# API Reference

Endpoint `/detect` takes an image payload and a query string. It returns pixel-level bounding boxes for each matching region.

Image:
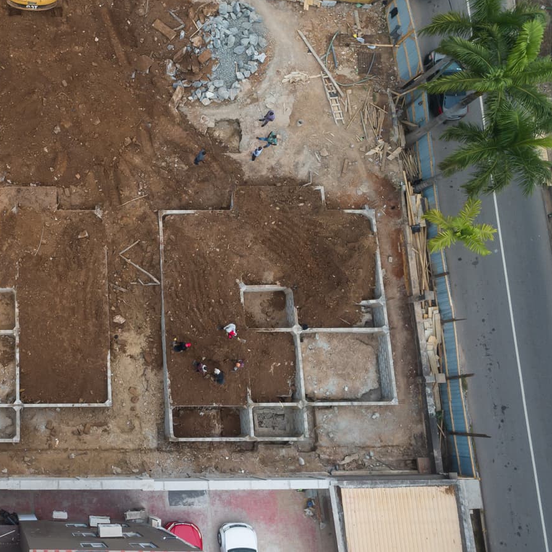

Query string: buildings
[323,478,485,552]
[20,521,206,552]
